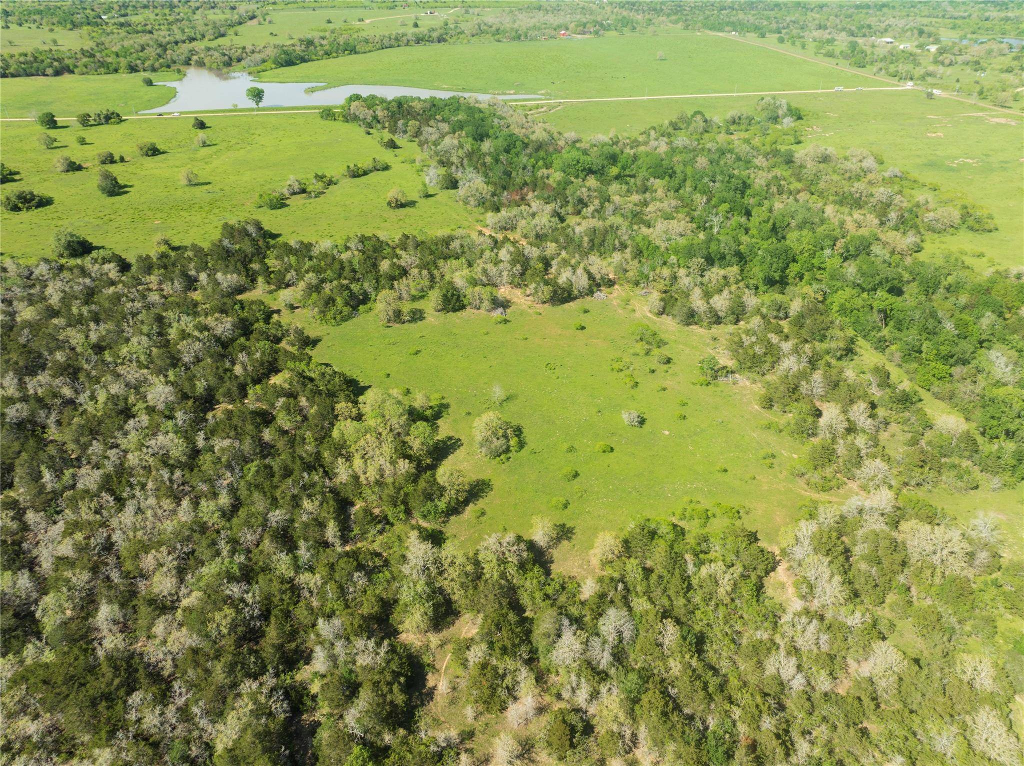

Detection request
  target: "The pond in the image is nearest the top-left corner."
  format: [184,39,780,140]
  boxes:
[142,67,543,113]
